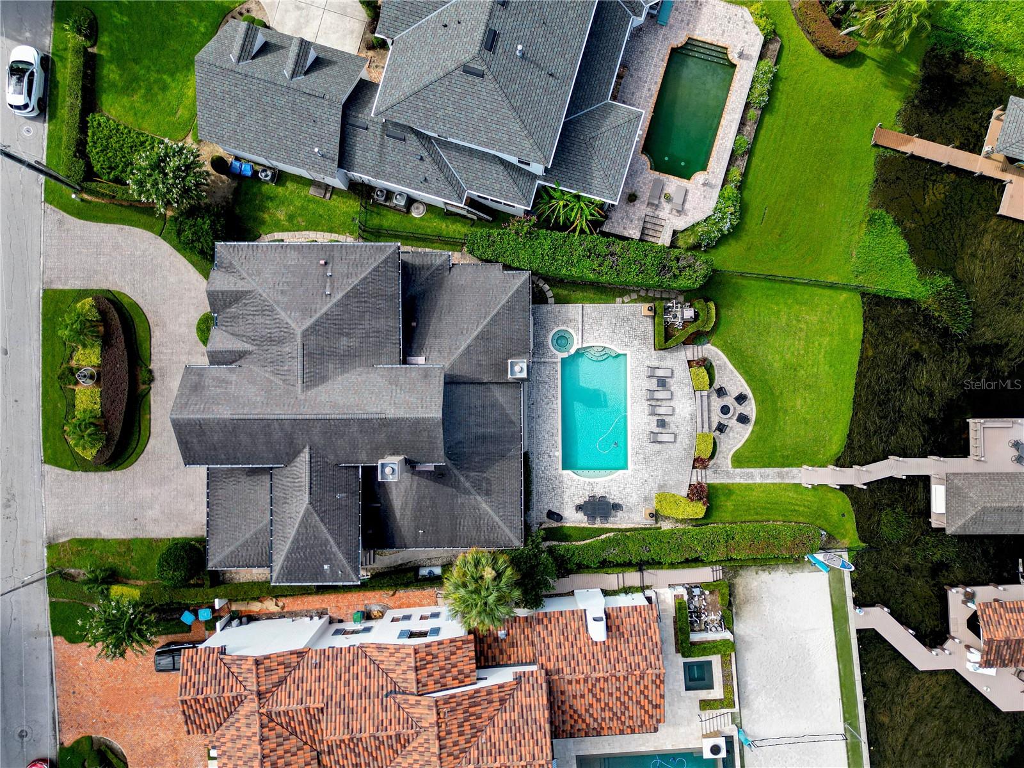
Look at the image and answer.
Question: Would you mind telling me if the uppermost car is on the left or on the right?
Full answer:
It is on the left.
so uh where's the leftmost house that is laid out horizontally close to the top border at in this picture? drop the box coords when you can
[194,0,648,223]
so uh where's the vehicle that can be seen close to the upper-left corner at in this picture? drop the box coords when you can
[6,48,48,117]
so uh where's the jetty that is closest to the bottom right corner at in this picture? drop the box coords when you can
[855,582,1024,712]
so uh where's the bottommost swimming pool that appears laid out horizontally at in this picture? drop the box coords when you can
[577,747,717,768]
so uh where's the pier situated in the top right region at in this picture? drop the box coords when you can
[871,107,1024,222]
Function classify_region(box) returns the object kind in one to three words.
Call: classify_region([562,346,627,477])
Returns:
swimming pool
